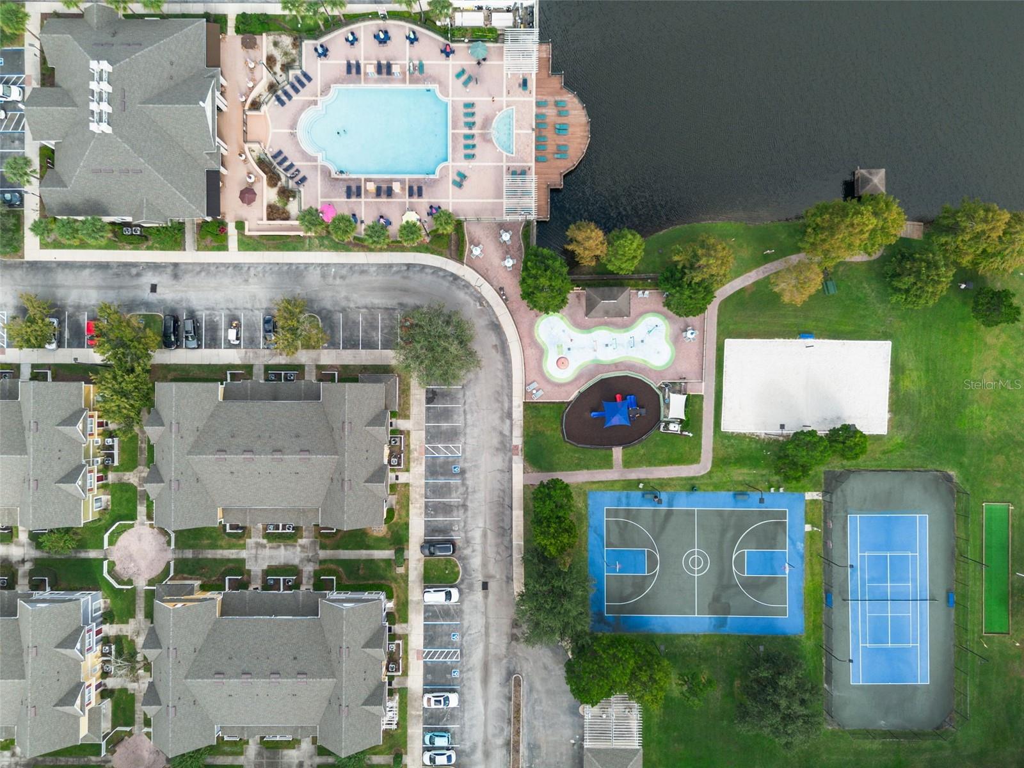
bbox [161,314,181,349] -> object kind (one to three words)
car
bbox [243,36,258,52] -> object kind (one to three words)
umbrella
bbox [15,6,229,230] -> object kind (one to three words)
building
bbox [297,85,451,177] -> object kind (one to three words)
swimming pool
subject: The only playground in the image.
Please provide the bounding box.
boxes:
[561,369,664,449]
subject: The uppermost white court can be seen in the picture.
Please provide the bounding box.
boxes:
[721,339,892,435]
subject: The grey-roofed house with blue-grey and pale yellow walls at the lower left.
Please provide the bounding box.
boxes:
[0,590,112,757]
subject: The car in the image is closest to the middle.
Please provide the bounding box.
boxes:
[420,541,455,558]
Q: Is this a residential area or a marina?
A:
residential area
